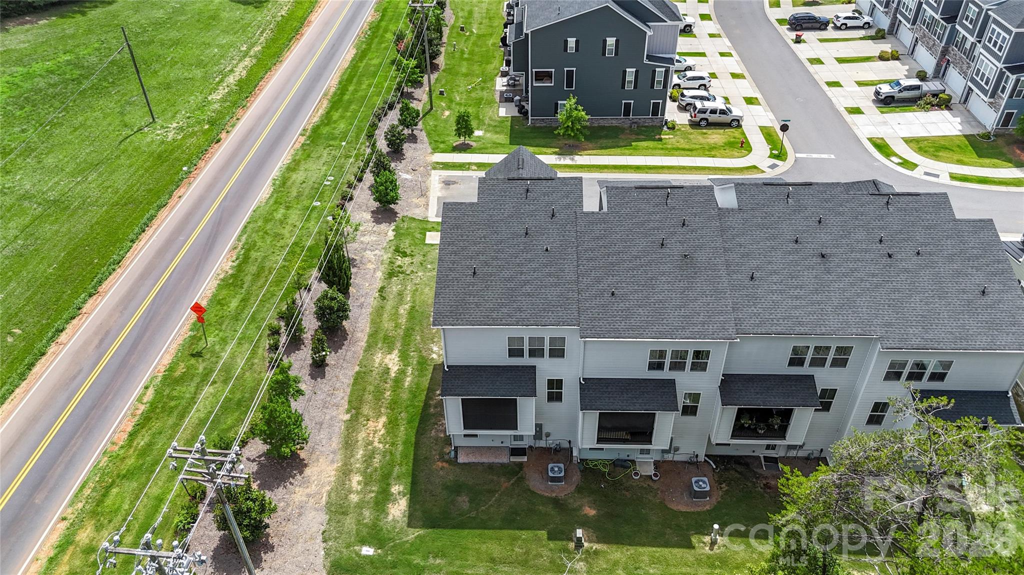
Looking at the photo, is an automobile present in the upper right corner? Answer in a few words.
Yes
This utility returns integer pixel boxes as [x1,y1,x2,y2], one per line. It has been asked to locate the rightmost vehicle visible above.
[872,72,942,99]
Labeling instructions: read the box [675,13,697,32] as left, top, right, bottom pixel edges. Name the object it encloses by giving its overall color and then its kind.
white vehicle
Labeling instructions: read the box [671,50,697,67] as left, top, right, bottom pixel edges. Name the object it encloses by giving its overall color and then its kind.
white car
